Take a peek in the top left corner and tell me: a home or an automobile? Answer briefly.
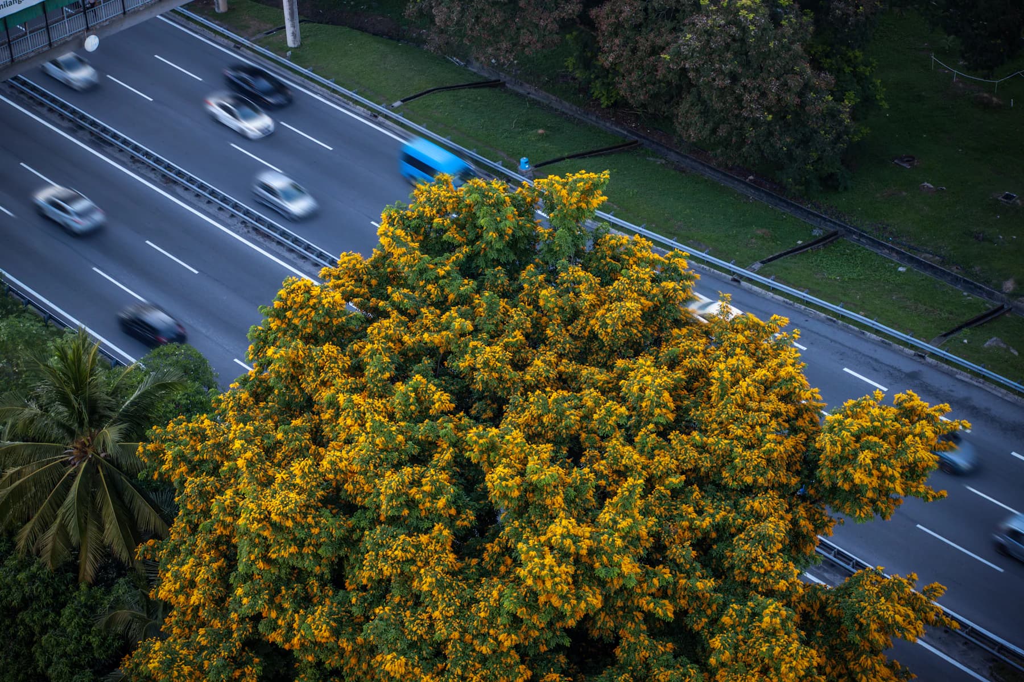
automobile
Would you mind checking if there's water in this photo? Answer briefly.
No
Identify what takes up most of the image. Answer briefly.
trees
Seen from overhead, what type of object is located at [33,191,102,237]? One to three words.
car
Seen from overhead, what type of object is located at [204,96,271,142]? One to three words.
car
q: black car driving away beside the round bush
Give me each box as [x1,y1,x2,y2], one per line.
[113,301,190,354]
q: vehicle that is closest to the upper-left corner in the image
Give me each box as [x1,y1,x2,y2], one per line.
[42,53,98,94]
